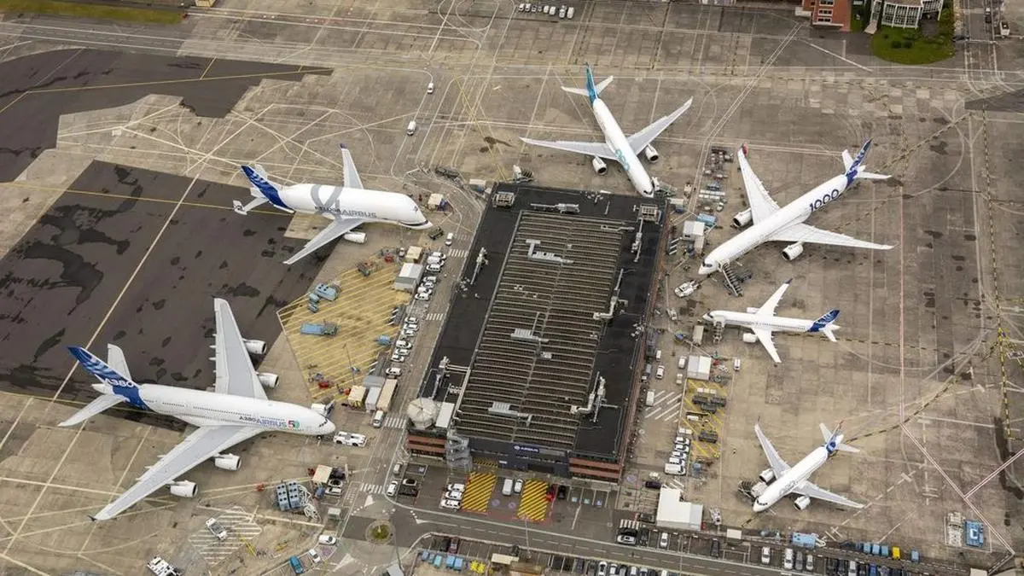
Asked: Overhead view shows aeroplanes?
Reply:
Yes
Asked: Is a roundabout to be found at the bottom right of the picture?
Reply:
No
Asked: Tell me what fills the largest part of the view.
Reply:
paved ground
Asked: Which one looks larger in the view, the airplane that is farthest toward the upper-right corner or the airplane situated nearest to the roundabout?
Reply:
the airplane situated nearest to the roundabout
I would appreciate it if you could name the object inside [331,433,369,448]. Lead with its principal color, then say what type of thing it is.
white work vehicle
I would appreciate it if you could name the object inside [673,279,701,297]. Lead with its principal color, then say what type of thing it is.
white work vehicle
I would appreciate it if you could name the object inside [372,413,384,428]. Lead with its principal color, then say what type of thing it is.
white vehicle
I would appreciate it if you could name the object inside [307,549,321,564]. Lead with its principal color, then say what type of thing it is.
white car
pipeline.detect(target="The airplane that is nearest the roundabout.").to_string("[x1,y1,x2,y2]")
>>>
[58,294,335,520]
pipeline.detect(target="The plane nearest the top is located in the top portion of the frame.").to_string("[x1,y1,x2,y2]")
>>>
[519,64,695,198]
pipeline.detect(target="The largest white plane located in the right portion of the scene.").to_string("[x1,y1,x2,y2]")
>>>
[699,140,903,276]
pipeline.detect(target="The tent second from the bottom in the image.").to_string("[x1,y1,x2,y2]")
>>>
[685,356,713,384]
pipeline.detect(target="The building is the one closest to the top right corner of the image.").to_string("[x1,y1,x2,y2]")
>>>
[882,0,948,33]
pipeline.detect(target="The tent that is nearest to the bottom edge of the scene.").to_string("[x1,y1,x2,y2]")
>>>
[656,490,704,533]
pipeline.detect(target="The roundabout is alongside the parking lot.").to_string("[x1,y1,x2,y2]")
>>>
[364,519,396,546]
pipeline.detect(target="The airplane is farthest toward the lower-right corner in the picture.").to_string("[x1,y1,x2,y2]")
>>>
[752,416,870,514]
